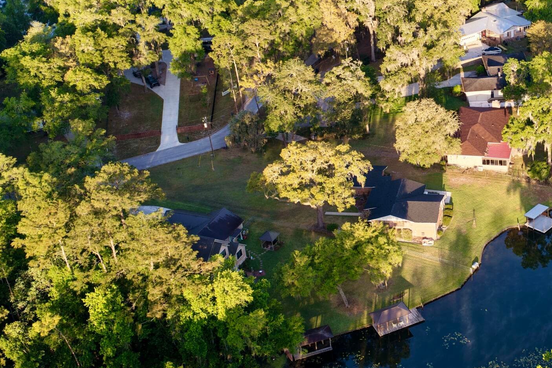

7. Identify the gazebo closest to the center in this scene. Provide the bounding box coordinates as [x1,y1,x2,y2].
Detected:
[260,231,280,247]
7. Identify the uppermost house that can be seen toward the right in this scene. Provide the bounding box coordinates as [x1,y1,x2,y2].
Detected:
[455,2,536,45]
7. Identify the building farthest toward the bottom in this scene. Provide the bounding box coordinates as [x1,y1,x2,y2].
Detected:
[296,325,334,365]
